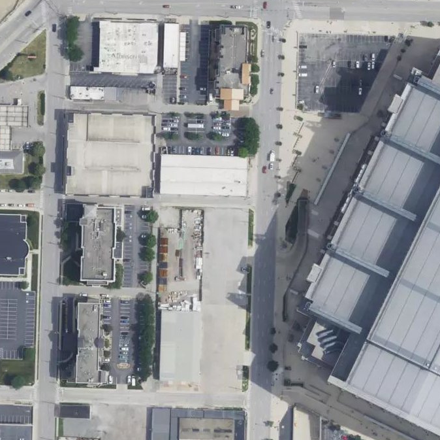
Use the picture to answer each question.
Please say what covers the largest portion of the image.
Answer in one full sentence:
What you mostly see from above here is paved ground.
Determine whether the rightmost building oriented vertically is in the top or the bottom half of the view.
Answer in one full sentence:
Seen from above, the rightmost building oriented vertically lies in the top half of the view.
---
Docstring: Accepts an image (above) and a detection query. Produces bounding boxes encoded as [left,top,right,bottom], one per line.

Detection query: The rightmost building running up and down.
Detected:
[208,25,250,110]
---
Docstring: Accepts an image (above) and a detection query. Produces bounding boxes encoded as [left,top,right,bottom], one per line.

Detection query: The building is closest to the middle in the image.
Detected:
[160,154,248,196]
